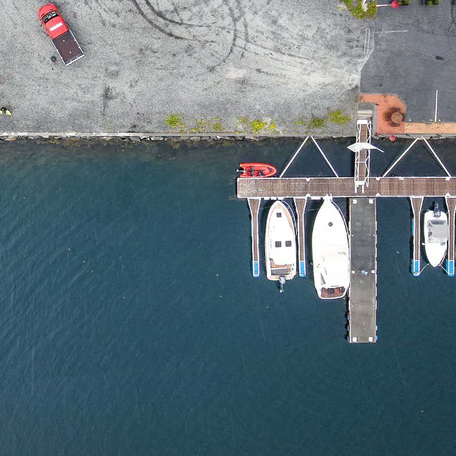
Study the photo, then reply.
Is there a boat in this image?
Yes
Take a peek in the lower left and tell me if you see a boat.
No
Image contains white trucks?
No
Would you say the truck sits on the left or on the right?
left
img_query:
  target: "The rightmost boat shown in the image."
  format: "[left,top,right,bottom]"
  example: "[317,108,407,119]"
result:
[420,203,447,267]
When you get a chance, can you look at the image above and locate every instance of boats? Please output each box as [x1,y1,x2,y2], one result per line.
[311,195,353,299]
[263,202,296,291]
[233,163,277,177]
[420,203,447,267]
